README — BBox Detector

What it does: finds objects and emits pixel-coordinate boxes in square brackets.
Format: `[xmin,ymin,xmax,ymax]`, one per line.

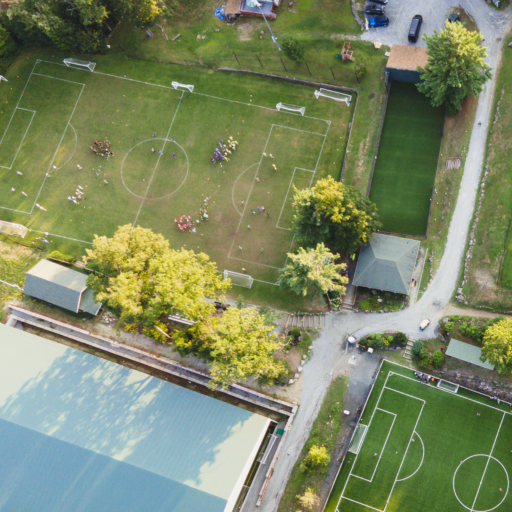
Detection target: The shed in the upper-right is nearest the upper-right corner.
[387,44,428,83]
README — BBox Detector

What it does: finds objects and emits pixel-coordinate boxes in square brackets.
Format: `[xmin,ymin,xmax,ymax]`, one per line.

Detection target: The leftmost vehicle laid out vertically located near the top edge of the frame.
[408,15,422,39]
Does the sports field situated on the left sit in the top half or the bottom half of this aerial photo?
top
